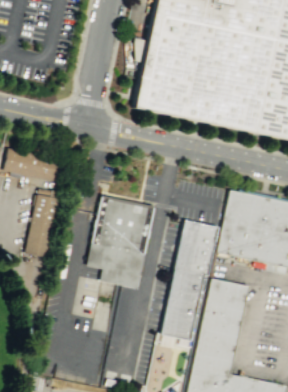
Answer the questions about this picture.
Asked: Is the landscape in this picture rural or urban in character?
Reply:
urban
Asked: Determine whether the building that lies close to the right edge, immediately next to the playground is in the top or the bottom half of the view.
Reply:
bottom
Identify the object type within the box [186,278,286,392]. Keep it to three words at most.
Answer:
building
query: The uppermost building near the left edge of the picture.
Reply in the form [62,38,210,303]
[5,144,58,180]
